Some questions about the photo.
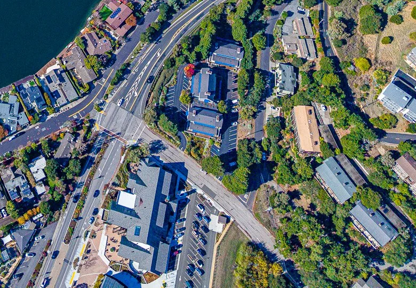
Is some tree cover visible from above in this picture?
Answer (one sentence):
Yes, there's tree cover in this view.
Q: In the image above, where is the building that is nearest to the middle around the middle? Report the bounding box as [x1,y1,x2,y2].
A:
[187,109,224,145]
